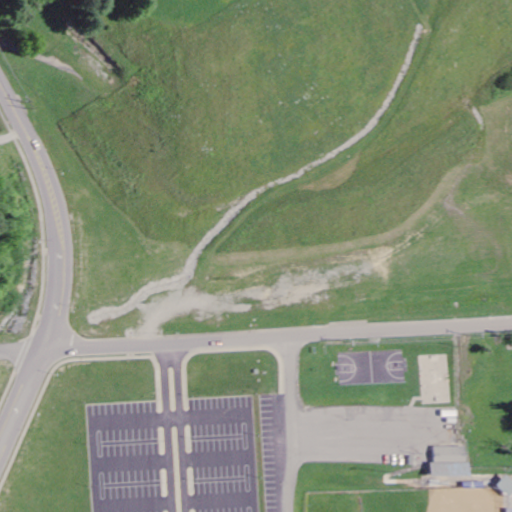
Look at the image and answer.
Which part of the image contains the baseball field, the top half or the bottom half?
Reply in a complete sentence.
Seen from above, the baseball field lies in the bottom half of the view.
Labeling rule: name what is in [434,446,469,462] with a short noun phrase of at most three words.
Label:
shed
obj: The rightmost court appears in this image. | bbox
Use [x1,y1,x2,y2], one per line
[418,354,451,404]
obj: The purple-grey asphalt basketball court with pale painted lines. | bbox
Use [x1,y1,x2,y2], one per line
[335,350,408,386]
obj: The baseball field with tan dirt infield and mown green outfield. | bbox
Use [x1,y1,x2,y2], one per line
[310,488,502,512]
